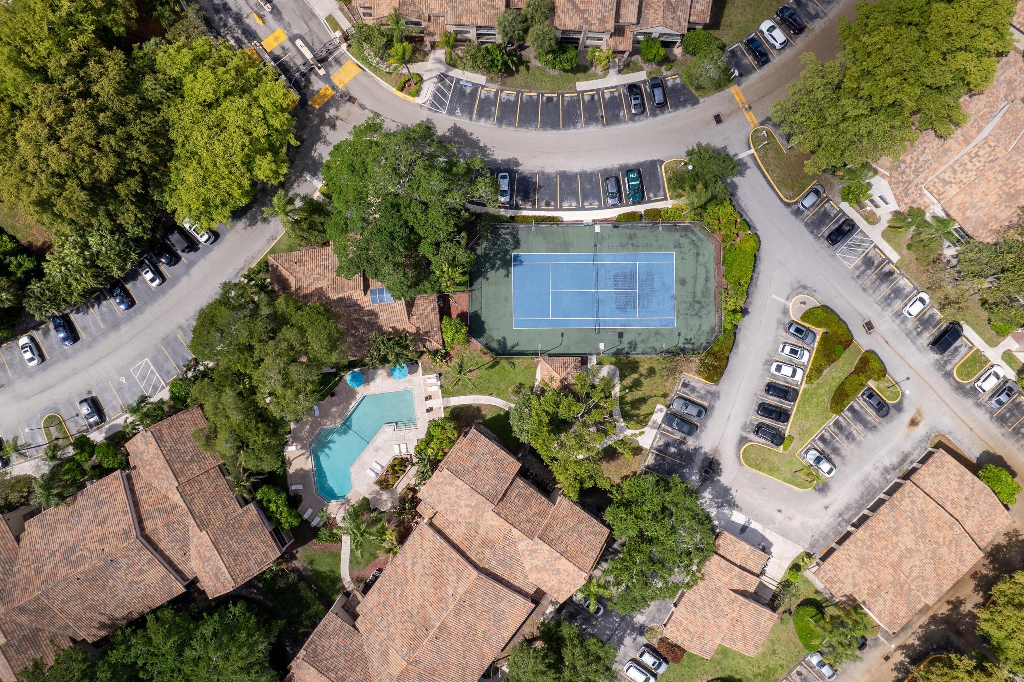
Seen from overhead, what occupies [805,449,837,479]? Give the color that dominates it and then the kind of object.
white car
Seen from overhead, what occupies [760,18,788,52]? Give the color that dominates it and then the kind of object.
white car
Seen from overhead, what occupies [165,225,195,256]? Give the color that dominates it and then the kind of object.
black car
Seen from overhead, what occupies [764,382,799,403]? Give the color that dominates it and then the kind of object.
black car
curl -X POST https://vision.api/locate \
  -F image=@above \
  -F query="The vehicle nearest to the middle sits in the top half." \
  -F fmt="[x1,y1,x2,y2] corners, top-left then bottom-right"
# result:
[497,171,512,205]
